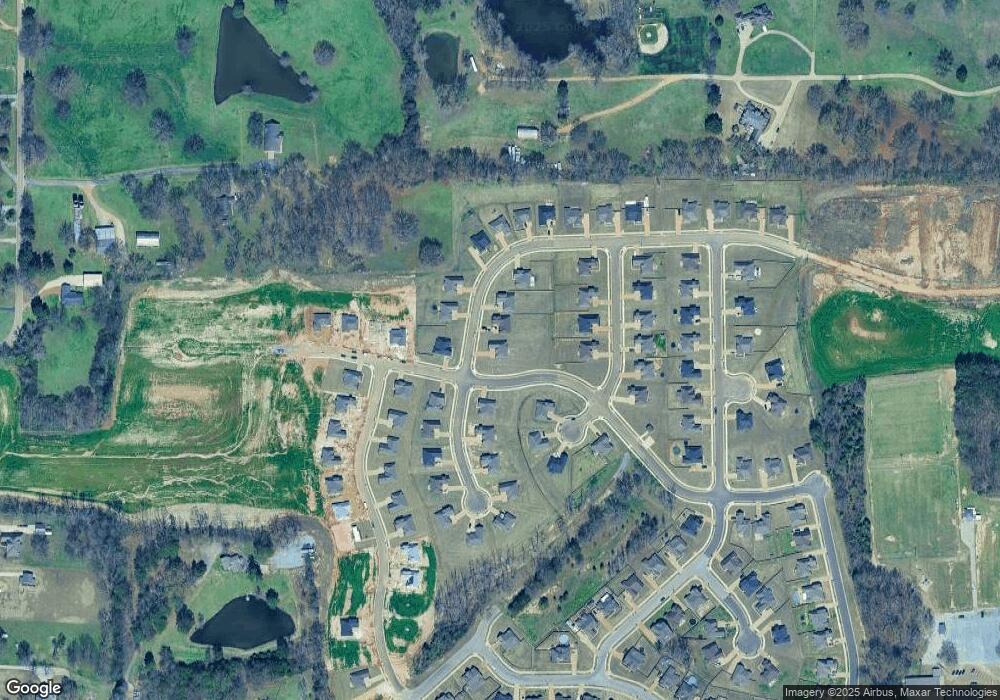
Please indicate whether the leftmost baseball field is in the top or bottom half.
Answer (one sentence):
You can find the leftmost baseball field in the top half.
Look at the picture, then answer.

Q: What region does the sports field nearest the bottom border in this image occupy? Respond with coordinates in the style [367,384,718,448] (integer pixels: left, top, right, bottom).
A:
[871,460,956,556]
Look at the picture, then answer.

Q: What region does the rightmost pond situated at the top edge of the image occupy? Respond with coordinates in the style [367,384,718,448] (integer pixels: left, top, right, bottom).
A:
[494,0,609,64]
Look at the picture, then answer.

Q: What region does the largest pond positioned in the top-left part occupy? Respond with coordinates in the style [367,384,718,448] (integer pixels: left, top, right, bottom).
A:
[215,7,312,103]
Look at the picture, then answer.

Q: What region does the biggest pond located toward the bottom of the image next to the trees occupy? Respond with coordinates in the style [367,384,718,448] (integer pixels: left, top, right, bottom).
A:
[190,595,294,648]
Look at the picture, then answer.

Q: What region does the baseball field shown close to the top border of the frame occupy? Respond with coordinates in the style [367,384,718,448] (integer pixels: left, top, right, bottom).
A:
[639,15,707,74]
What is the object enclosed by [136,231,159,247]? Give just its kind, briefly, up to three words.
shed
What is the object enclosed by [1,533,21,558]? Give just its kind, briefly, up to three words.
house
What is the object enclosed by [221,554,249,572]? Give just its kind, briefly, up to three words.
house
